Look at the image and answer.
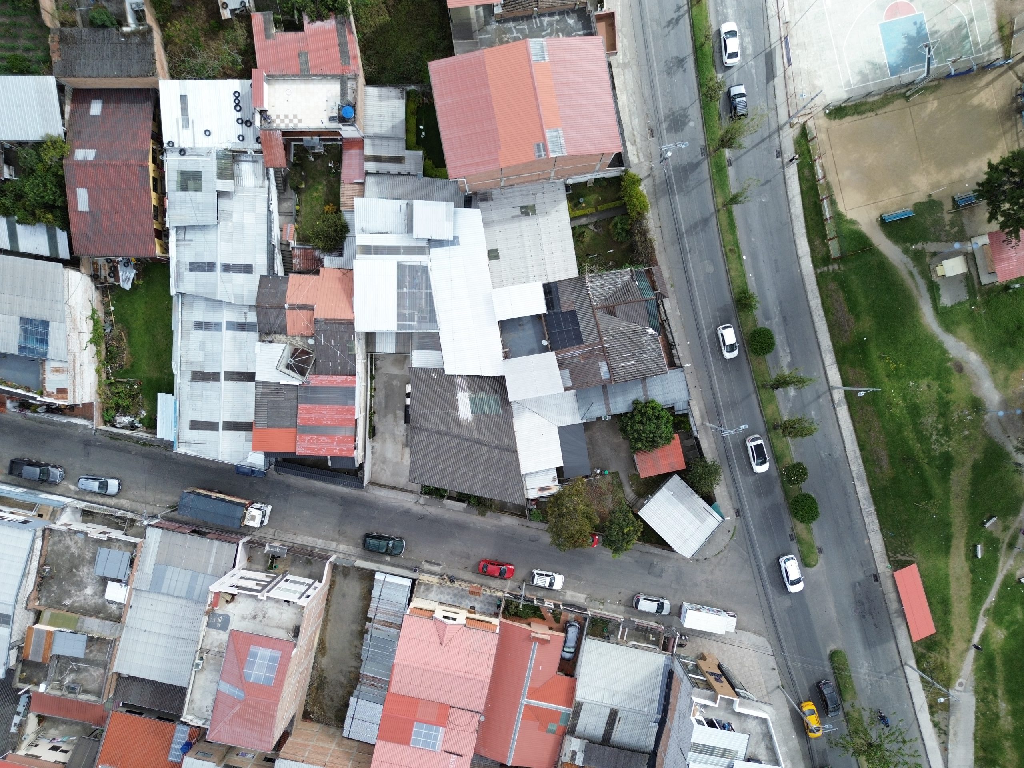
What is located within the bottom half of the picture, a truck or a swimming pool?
truck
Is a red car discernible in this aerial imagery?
Yes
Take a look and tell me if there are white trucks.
Yes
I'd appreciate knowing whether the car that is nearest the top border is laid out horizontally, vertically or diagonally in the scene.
vertically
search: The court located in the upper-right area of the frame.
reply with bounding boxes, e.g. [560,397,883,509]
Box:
[785,0,1004,114]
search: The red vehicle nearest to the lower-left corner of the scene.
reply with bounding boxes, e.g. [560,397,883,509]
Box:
[475,558,517,581]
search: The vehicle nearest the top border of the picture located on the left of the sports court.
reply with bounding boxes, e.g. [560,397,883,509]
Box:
[718,22,741,69]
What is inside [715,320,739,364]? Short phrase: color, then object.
white car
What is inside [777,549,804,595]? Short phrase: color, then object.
white car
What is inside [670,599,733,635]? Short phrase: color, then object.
white truck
